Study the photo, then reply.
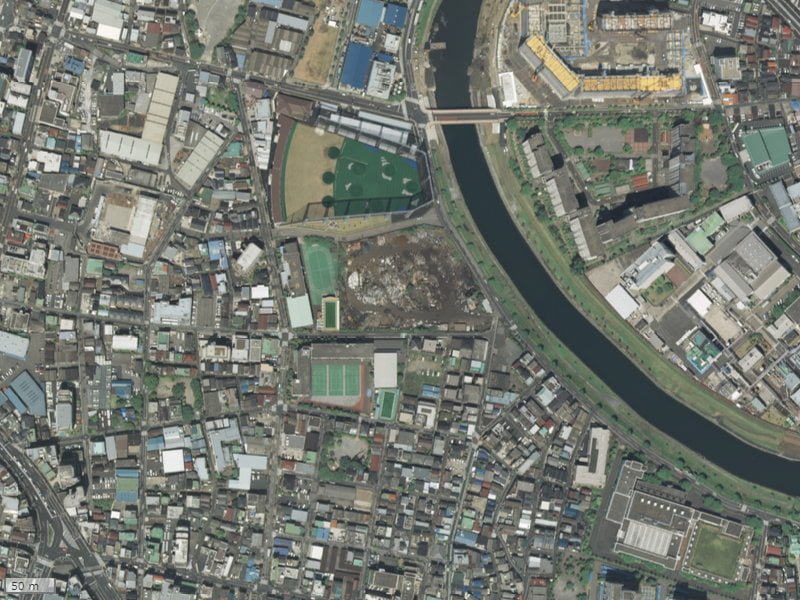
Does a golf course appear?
Yes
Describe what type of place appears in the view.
residential area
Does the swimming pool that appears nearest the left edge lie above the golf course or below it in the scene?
below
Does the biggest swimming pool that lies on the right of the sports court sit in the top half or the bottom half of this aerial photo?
bottom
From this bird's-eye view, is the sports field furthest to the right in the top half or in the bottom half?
bottom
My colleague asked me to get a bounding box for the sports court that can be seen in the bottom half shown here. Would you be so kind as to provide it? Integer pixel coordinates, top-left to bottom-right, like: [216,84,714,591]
[300,362,368,415]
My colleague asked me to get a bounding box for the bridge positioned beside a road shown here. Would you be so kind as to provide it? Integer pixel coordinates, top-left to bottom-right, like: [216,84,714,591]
[418,98,503,146]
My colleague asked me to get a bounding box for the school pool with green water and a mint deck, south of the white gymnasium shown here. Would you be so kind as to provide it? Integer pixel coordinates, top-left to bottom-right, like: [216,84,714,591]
[376,390,399,422]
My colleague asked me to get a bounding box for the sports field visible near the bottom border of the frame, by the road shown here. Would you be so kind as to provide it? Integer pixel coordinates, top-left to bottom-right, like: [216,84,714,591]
[681,511,753,586]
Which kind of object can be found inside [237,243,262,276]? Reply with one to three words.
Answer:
building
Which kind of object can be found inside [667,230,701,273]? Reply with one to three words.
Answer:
building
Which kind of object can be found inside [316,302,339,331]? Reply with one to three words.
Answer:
swimming pool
